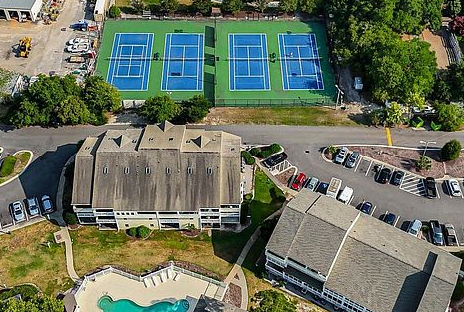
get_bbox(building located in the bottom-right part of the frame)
[265,188,464,312]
